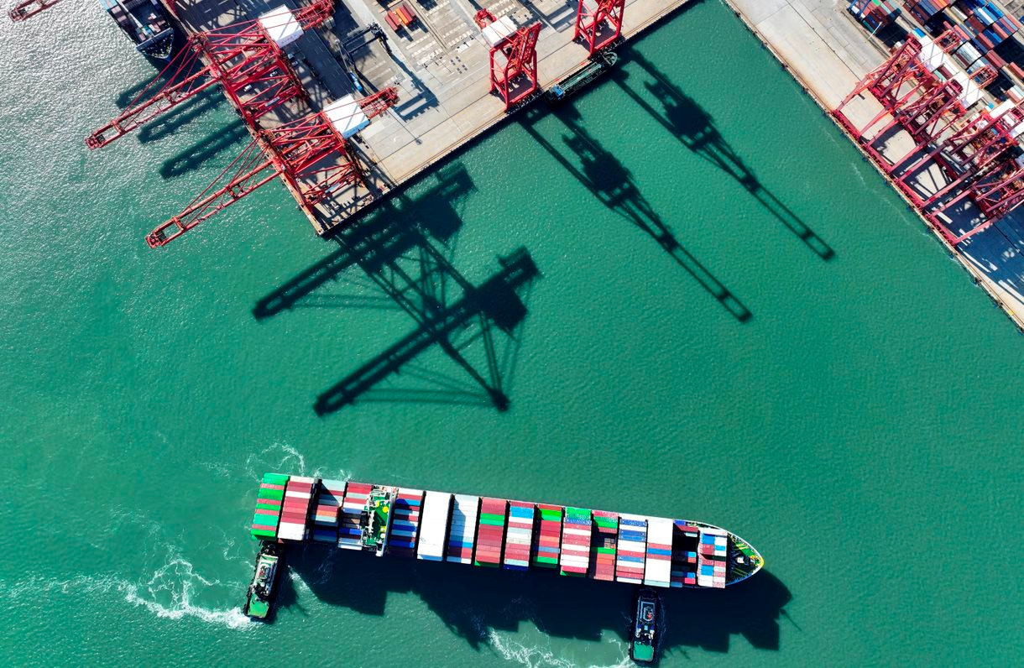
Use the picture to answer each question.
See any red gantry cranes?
Yes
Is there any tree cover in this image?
No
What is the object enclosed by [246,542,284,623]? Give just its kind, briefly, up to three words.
boat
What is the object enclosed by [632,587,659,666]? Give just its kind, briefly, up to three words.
boat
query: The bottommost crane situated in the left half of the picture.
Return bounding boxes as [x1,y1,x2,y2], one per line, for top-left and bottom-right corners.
[139,80,405,254]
